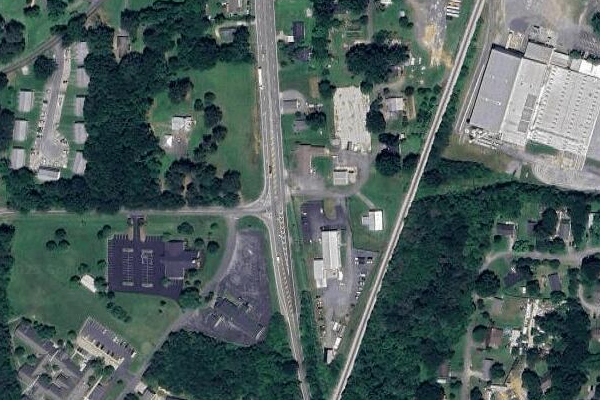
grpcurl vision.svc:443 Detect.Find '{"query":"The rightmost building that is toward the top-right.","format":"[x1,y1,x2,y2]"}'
[470,38,600,168]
